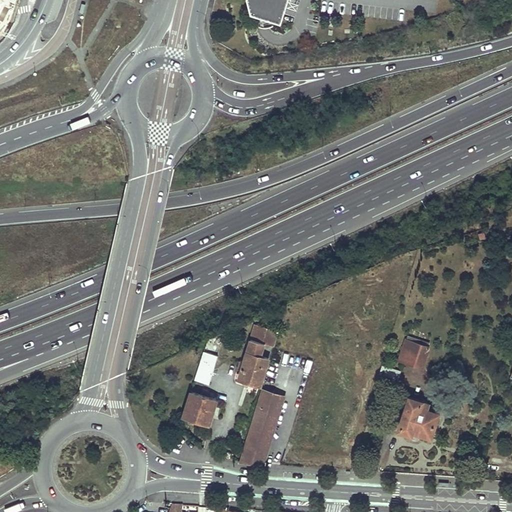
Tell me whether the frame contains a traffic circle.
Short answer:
Yes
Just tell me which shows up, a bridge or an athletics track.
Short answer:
bridge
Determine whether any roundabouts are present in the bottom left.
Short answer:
Yes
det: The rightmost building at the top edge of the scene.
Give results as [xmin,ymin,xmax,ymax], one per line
[246,0,288,28]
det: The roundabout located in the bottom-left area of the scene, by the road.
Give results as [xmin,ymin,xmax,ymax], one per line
[33,374,148,512]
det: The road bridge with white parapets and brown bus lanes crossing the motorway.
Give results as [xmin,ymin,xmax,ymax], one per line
[79,166,174,393]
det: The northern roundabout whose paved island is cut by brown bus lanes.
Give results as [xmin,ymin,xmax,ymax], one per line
[116,46,214,146]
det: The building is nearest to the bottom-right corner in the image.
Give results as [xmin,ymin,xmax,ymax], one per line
[398,399,440,444]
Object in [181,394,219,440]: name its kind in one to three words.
house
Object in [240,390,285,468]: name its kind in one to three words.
building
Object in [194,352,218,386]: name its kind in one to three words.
shed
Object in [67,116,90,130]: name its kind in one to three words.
vehicle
